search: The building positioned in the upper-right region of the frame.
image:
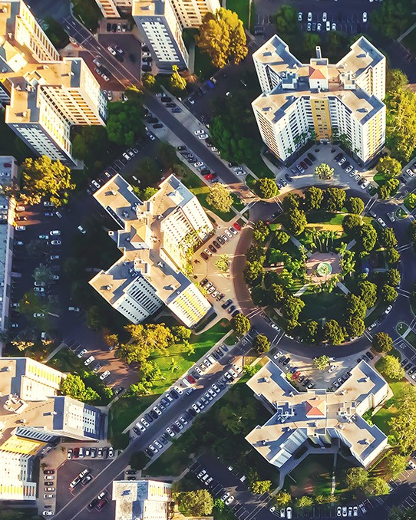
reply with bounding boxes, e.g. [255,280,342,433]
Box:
[251,36,386,164]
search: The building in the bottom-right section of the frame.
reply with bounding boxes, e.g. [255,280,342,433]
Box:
[244,361,388,467]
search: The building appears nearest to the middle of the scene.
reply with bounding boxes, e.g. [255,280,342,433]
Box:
[90,173,210,325]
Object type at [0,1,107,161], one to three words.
building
